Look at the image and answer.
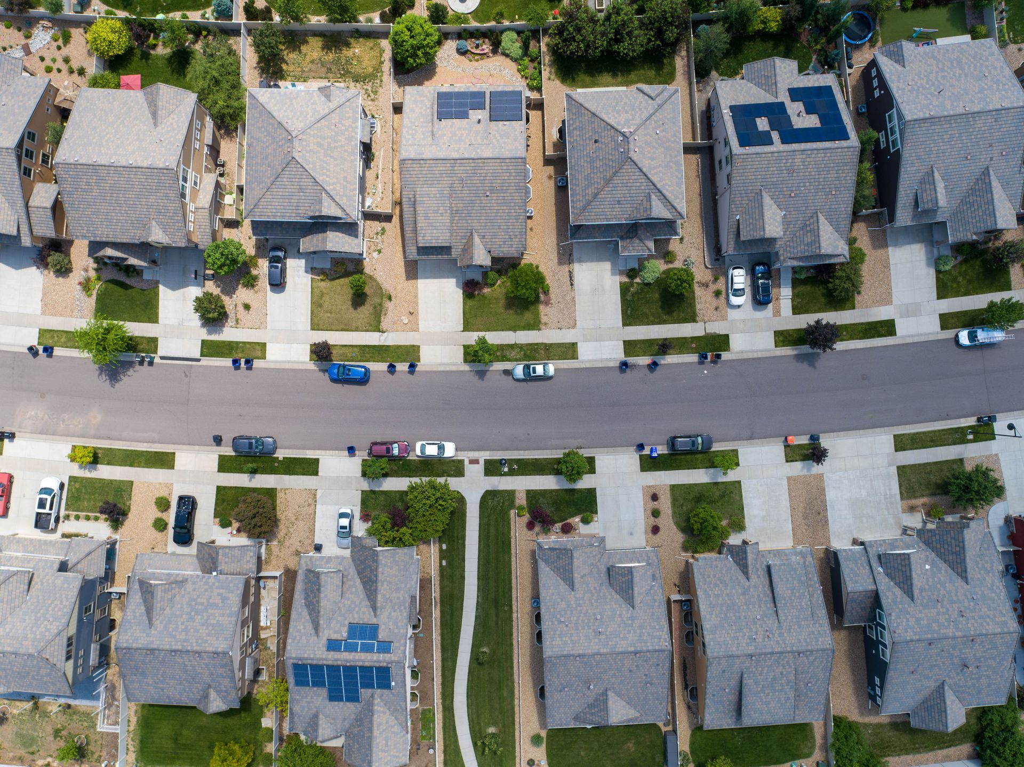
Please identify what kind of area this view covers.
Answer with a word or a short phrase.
residential area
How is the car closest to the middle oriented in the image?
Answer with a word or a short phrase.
from side to side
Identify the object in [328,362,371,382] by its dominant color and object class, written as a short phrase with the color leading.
blue car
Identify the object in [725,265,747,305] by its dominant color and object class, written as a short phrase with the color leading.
white car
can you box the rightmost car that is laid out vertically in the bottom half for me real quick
[334,506,354,549]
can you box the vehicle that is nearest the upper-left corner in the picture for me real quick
[266,245,288,287]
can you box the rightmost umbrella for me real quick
[123,75,142,90]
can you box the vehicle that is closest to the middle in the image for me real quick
[512,362,555,382]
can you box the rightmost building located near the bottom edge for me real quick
[829,512,1024,737]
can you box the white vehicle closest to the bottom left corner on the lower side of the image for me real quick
[35,476,65,531]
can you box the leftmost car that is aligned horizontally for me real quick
[231,435,278,456]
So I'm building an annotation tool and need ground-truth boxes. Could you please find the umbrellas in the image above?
[59,83,80,109]
[123,75,142,90]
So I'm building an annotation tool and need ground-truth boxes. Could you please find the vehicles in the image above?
[35,476,65,531]
[512,362,555,382]
[266,245,288,287]
[725,265,747,305]
[750,262,773,306]
[0,470,14,519]
[367,440,410,460]
[334,506,354,549]
[328,362,371,382]
[415,440,456,460]
[954,327,1007,348]
[172,492,198,546]
[666,432,712,453]
[231,435,278,456]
